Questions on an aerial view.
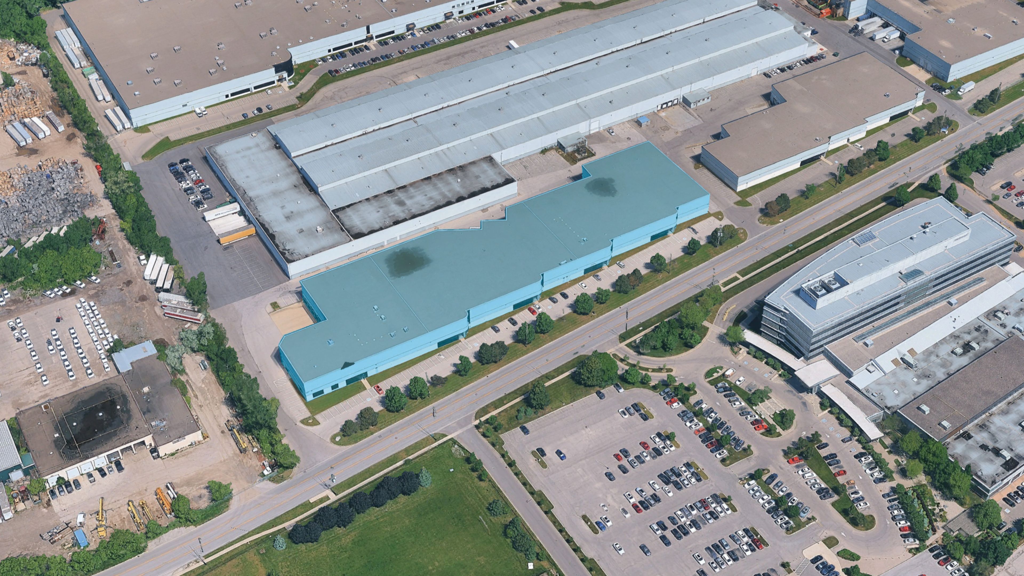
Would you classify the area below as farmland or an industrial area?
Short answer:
industrial area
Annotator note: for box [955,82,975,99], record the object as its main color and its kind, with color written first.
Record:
white vehicle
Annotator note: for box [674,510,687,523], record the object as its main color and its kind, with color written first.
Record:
white vehicle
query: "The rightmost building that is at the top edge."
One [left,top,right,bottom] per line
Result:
[863,0,1024,82]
